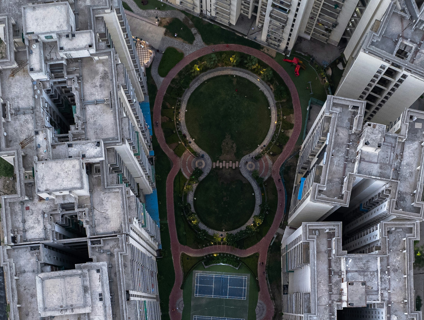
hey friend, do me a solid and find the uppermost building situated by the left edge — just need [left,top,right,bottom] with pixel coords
[0,0,165,260]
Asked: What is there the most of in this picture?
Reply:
buildings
